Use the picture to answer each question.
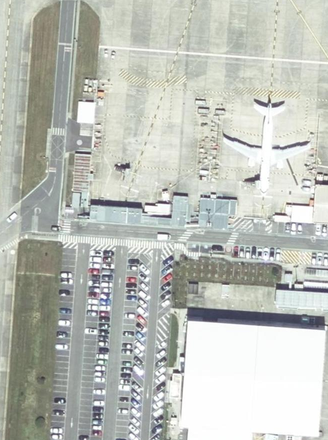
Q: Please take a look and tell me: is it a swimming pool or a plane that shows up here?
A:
plane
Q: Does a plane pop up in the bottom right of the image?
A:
No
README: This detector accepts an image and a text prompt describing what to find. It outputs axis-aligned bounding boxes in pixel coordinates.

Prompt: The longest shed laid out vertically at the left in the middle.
[73,155,92,192]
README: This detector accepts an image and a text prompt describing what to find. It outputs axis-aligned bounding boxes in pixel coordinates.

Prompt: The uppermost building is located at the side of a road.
[78,102,96,124]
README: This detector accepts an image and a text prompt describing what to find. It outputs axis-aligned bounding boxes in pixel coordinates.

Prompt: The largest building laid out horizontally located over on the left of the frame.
[90,206,143,226]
